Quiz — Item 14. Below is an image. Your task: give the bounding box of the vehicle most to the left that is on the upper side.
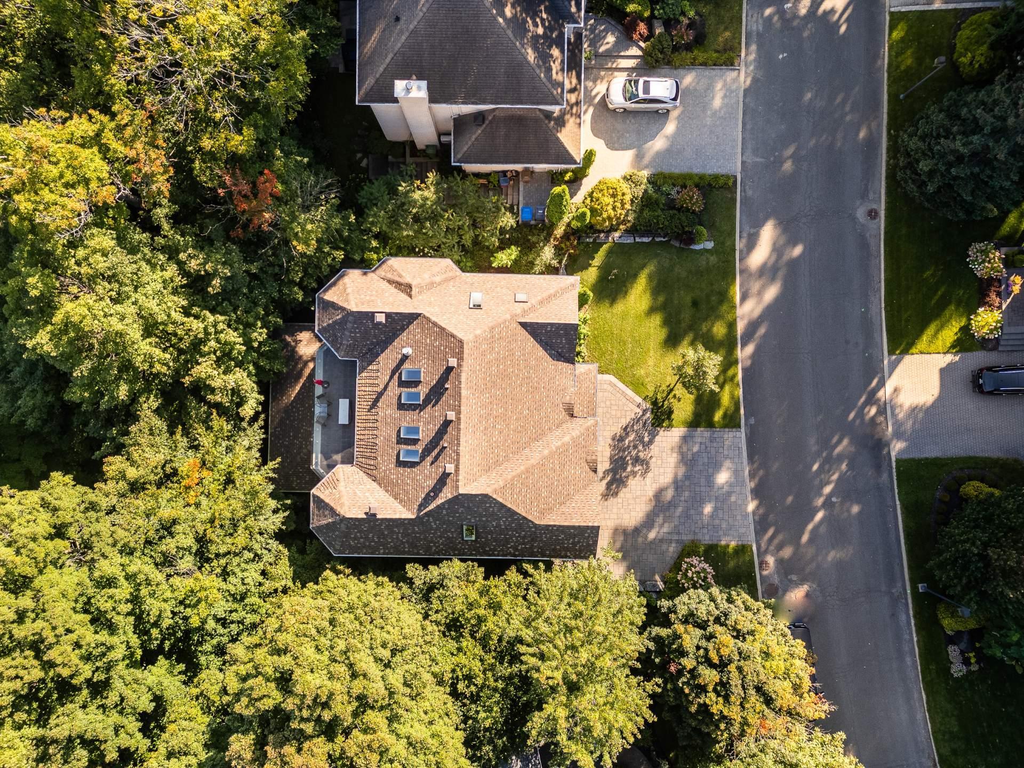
[604,77,680,117]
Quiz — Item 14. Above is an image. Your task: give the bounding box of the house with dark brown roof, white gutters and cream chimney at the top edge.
[354,0,585,176]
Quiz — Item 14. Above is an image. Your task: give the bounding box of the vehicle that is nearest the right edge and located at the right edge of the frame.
[964,364,1024,395]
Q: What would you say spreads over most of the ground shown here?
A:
trees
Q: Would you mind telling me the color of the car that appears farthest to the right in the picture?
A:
black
